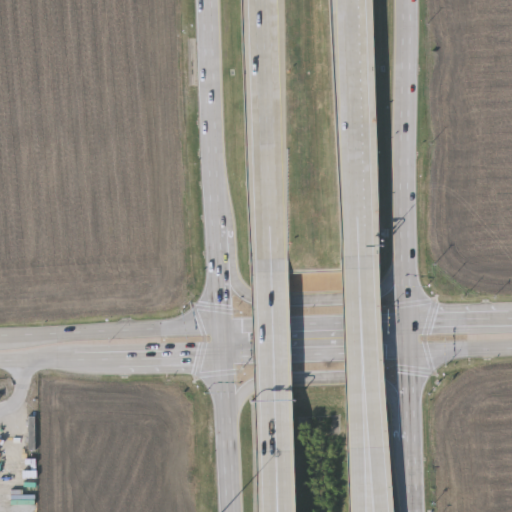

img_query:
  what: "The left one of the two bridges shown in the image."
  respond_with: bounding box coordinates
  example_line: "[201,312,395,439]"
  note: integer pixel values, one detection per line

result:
[251,260,296,512]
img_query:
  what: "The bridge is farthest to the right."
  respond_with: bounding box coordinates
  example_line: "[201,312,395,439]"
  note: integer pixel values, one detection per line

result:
[342,260,394,512]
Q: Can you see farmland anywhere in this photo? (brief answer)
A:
Yes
